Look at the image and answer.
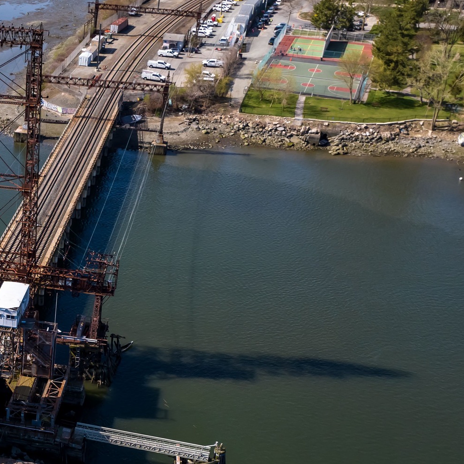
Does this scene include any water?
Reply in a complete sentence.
Yes, there is water in the image.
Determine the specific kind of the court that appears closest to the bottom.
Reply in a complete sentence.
The court that appears closest to the bottom is a basketball court.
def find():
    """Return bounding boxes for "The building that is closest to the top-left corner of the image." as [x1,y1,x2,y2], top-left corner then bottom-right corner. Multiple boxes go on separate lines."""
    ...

[162,25,189,47]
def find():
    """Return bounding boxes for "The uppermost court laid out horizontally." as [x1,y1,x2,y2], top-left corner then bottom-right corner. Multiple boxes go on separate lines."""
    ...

[274,35,374,63]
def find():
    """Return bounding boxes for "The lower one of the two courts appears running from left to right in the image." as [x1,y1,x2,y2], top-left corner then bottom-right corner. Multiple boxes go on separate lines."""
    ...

[251,50,371,102]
